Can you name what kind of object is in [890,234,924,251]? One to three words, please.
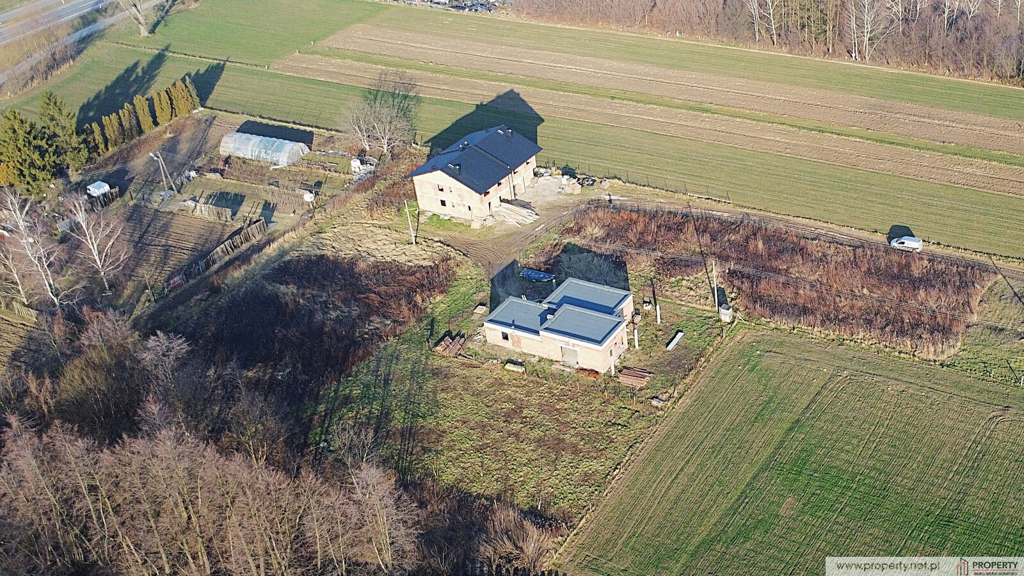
vehicle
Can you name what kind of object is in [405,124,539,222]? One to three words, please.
house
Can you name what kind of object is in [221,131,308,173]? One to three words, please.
greenhouse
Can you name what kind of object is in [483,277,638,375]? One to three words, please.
house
